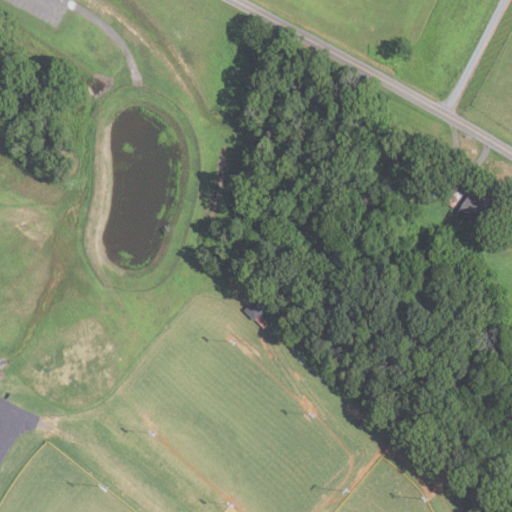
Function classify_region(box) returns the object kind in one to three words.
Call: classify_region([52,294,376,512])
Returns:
sports field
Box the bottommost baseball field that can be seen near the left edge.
[0,444,131,512]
